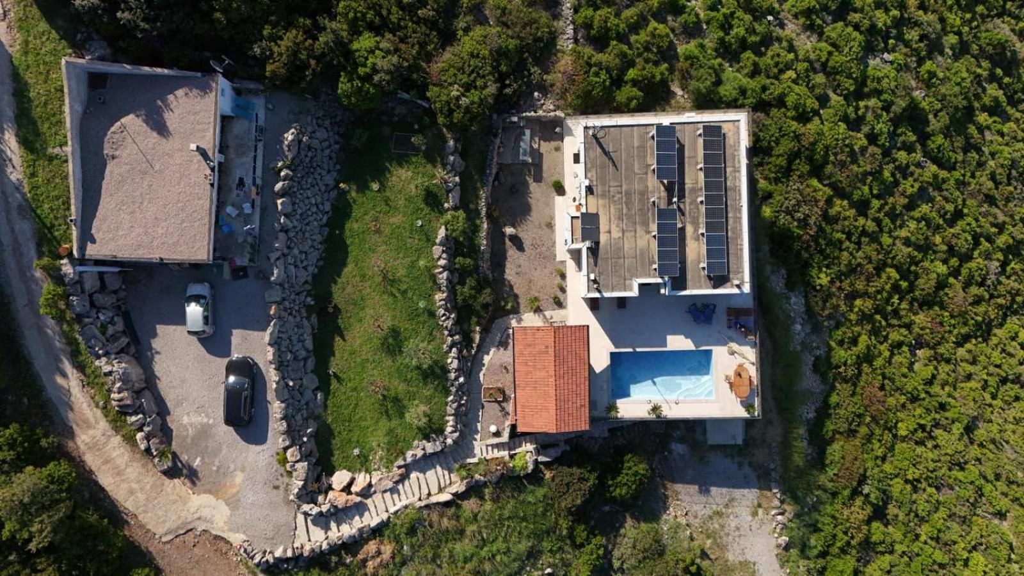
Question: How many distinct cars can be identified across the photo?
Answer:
2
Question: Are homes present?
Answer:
Yes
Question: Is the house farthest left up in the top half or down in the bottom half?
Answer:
top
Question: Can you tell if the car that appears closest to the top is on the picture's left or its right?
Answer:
left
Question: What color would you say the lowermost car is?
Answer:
black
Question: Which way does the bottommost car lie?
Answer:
up and down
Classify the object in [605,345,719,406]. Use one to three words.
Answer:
swimming pool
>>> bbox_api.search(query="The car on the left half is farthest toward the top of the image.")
[181,282,216,338]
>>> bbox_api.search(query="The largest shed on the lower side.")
[512,325,592,434]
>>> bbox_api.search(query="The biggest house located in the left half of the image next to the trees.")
[63,60,242,264]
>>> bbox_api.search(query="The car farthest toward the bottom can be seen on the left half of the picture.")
[220,356,256,429]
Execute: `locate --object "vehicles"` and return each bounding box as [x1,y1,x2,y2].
[220,356,256,429]
[181,282,216,338]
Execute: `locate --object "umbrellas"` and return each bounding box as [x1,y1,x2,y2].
[719,331,755,364]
